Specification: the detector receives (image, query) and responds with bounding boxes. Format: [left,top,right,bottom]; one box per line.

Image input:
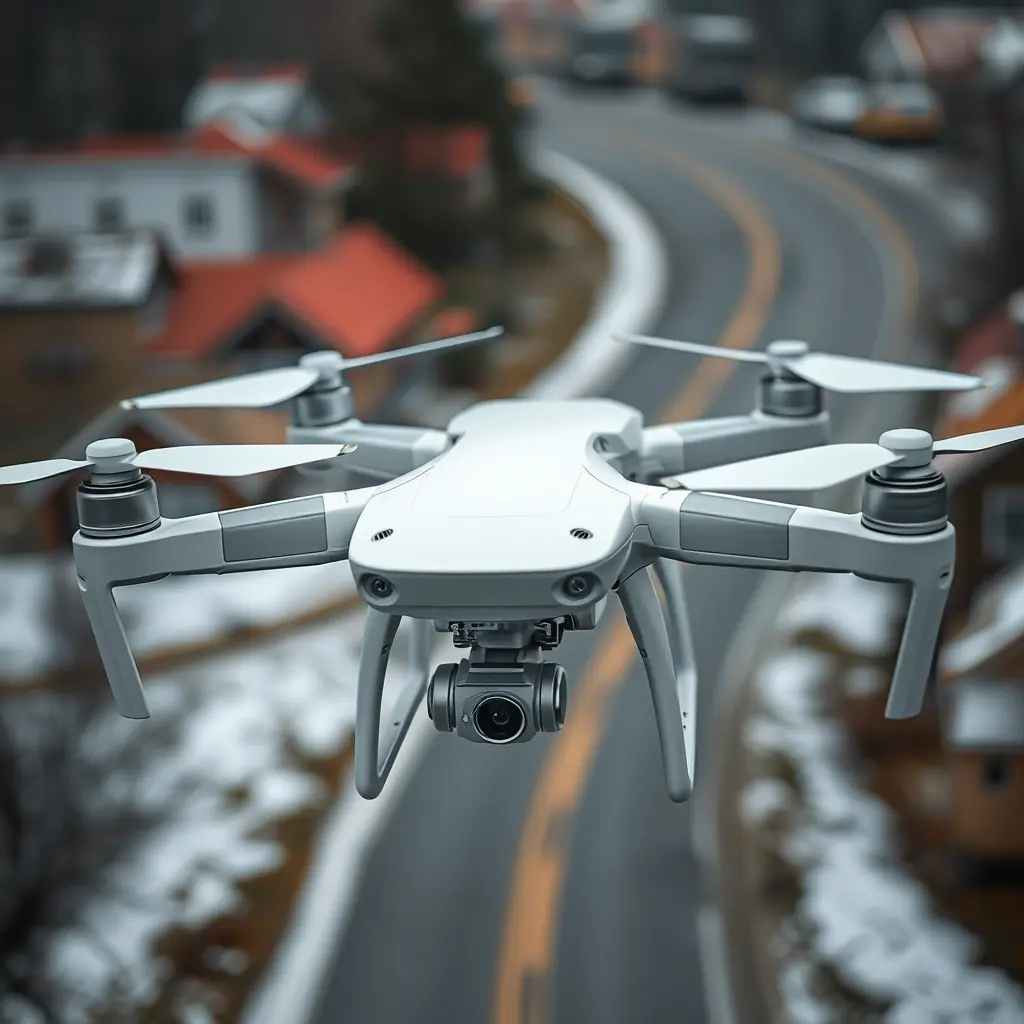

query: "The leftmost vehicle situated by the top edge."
[566,6,640,84]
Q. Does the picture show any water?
No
